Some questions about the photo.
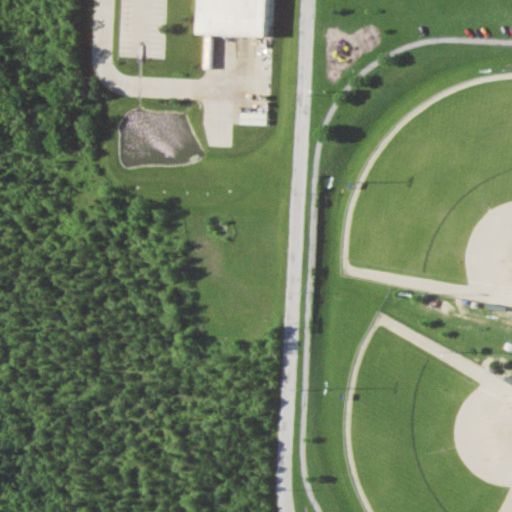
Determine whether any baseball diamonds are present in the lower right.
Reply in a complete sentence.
Yes, looking in the lower right, one can make out a baseball diamond.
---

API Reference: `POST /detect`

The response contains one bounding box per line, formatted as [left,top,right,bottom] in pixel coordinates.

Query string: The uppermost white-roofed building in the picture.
[194,0,271,36]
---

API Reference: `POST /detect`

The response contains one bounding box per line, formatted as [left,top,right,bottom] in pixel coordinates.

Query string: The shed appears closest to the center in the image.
[240,112,269,126]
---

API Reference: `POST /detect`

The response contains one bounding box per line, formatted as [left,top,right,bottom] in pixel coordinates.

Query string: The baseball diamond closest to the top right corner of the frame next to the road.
[343,73,512,308]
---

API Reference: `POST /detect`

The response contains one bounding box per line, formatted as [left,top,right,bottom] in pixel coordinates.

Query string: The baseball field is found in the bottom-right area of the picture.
[346,313,512,512]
